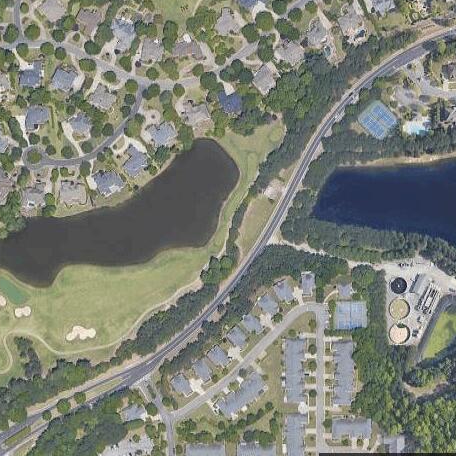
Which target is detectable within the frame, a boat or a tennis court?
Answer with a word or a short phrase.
tennis court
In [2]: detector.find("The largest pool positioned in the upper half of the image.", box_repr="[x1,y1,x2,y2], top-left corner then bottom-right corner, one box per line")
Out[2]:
[403,118,431,136]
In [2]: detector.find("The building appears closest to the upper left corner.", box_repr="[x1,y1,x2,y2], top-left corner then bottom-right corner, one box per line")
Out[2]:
[36,0,68,20]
